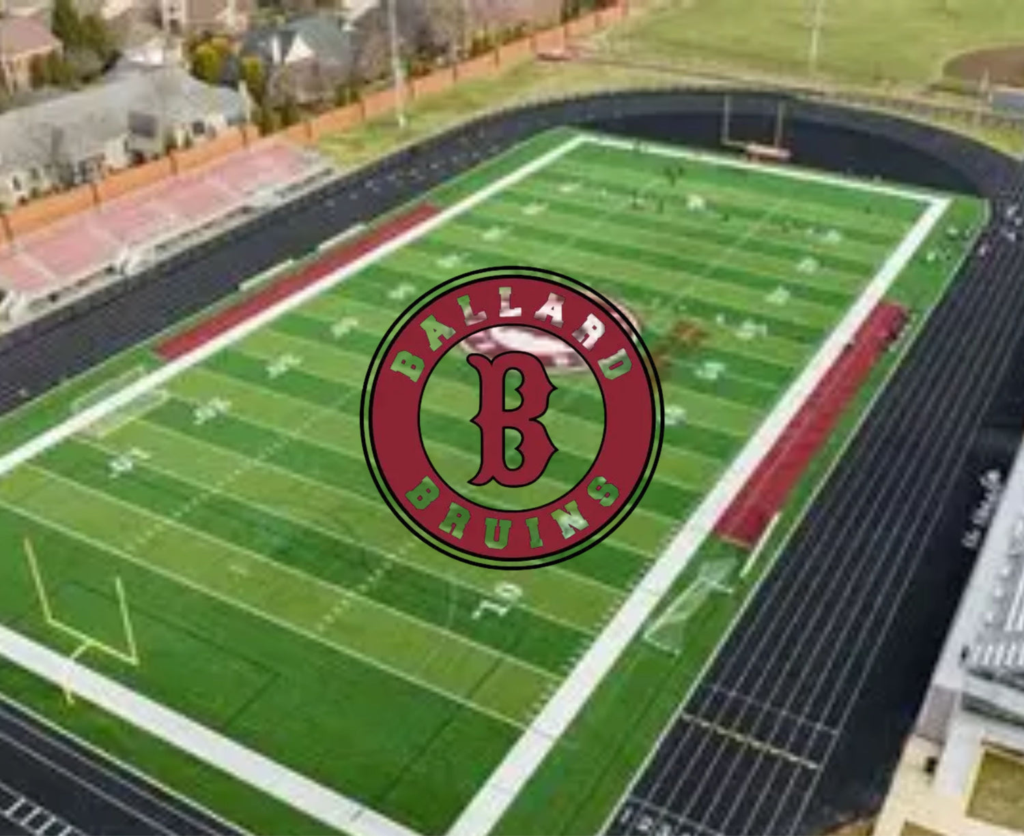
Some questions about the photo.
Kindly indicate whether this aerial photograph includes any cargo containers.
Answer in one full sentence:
No, there's no cargo container here.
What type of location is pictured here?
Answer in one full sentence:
This looks like a sports ground.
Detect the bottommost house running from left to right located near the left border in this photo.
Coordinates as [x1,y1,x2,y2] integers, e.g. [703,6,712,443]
[0,77,267,214]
